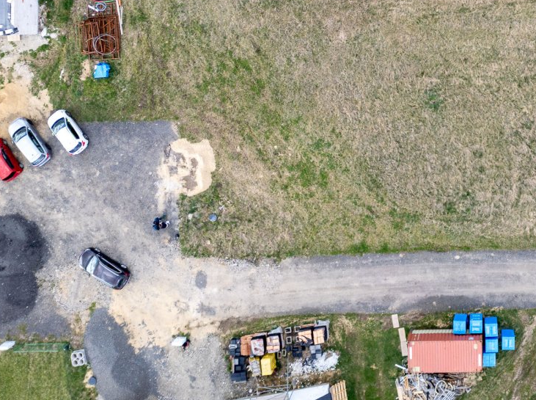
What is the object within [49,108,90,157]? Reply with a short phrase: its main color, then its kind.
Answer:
white car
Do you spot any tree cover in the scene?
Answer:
No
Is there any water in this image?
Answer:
No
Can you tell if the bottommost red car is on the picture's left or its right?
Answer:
left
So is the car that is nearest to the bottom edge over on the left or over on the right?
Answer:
left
